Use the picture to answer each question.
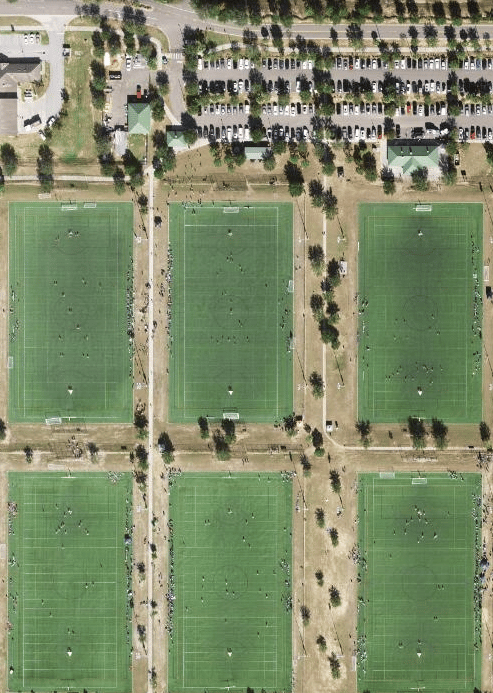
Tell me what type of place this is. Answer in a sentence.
The area seen from above is a sports ground.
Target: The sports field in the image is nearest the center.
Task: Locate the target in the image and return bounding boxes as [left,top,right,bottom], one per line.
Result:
[169,201,294,423]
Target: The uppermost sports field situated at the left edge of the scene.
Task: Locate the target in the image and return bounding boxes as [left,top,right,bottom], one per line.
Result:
[8,201,133,423]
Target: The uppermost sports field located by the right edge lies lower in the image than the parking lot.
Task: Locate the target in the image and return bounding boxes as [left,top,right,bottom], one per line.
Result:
[358,202,484,424]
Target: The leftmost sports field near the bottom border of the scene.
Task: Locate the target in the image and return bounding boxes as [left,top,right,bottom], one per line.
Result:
[8,471,133,693]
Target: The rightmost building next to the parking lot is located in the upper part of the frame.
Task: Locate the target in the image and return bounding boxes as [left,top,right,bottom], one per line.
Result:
[387,146,440,175]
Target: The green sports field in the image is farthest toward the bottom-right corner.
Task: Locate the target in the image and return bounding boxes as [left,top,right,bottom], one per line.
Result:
[358,471,483,693]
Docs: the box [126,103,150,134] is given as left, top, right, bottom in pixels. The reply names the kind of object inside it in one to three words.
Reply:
building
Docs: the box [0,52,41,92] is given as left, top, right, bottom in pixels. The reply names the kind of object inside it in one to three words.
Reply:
building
